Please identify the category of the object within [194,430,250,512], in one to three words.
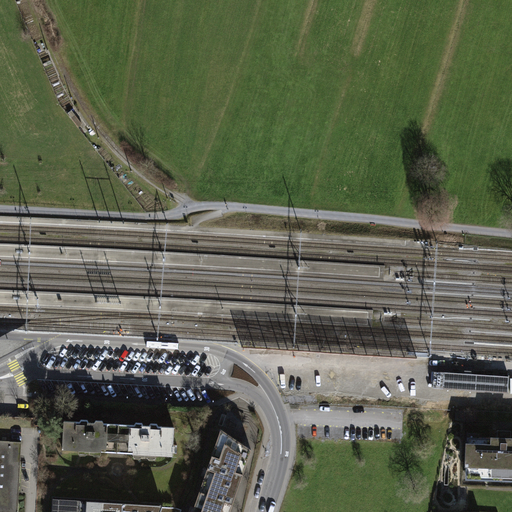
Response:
building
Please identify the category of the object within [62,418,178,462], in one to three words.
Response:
building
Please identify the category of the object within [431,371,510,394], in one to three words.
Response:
shed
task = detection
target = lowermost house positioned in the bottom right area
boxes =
[464,436,512,482]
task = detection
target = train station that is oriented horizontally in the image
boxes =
[0,216,406,324]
